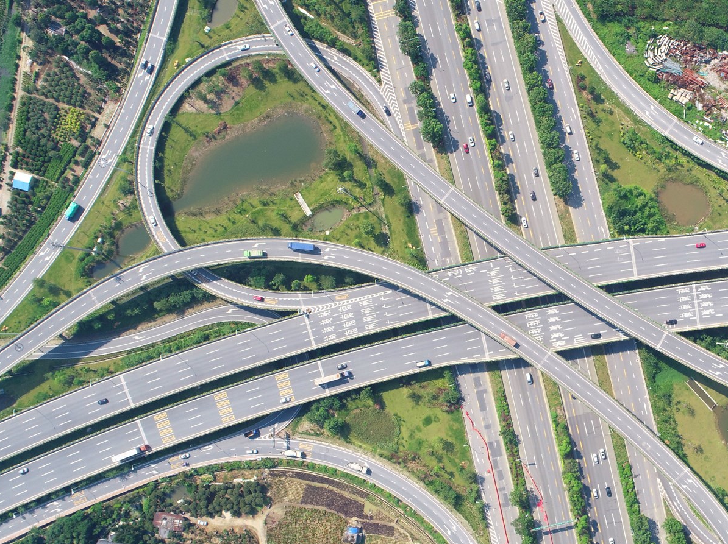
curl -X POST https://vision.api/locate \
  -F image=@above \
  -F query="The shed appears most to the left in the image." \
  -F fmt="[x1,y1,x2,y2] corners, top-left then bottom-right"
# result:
[12,171,37,192]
